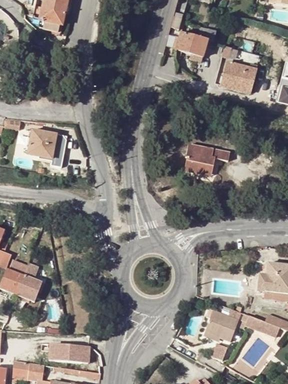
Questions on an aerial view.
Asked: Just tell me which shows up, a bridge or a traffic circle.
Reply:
traffic circle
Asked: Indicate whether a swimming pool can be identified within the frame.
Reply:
Yes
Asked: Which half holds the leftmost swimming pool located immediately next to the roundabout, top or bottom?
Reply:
bottom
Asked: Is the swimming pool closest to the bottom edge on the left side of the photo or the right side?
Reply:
right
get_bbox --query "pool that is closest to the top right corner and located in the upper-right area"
[266,8,288,26]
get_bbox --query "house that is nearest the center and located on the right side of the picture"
[184,144,230,176]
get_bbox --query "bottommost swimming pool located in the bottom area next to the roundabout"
[184,315,204,337]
